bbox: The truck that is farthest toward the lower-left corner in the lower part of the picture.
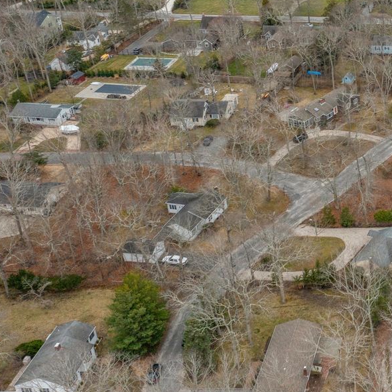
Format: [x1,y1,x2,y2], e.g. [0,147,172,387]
[143,360,164,388]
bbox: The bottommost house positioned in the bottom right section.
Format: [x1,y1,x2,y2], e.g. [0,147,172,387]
[253,318,329,392]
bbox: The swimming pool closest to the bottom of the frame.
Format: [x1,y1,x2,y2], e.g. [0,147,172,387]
[75,82,147,100]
